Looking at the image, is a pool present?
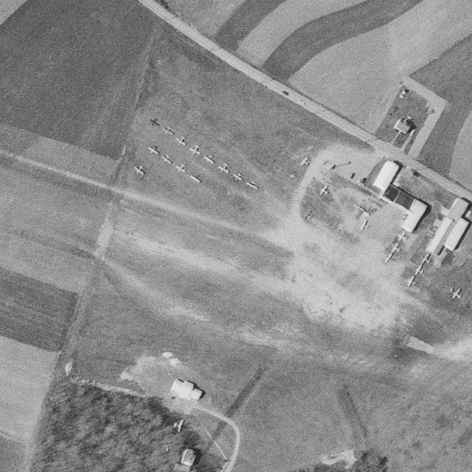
No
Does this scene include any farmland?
Yes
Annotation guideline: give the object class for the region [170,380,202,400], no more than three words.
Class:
house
